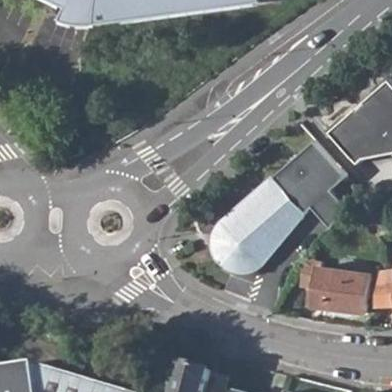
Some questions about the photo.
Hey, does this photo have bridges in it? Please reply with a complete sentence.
No, the photo shows no bridge.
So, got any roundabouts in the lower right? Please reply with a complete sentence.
No, in the lower right there is no roundabout.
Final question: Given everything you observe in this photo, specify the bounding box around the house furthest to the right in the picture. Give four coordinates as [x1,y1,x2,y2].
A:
[372,267,392,310]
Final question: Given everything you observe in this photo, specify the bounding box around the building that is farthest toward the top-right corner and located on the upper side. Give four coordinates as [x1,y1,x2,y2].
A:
[327,82,392,164]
